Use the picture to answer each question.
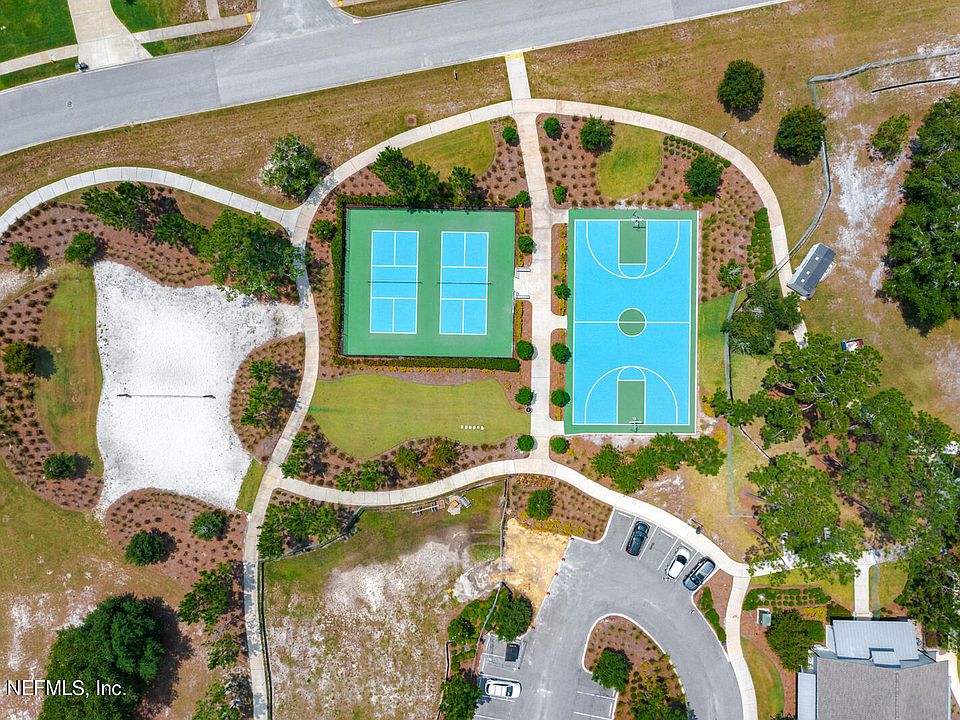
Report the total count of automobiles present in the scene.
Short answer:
4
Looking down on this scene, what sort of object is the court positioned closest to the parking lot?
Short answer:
basketball court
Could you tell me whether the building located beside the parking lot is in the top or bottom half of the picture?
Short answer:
bottom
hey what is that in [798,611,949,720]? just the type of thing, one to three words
building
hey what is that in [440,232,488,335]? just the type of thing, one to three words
sports court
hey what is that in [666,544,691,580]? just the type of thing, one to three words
car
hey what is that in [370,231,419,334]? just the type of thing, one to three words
sports court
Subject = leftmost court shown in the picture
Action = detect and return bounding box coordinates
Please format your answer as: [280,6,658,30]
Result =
[95,261,305,524]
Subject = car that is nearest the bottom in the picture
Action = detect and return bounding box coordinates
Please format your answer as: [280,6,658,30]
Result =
[485,677,521,698]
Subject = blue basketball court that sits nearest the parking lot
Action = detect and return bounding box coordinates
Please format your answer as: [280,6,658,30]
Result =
[564,209,699,436]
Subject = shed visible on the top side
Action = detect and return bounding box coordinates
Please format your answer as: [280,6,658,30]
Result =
[779,240,836,304]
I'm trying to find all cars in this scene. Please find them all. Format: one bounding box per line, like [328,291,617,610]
[666,544,691,580]
[683,555,715,591]
[485,677,521,698]
[624,519,648,557]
